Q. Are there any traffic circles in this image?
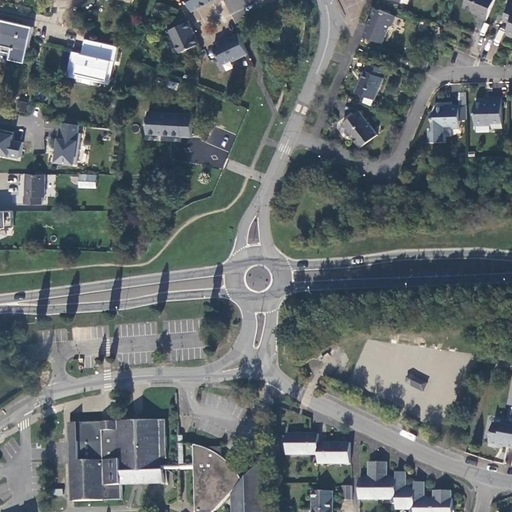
Yes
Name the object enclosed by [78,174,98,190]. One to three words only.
shed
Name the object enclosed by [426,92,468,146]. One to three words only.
house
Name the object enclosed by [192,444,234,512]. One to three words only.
building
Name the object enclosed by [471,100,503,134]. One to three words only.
house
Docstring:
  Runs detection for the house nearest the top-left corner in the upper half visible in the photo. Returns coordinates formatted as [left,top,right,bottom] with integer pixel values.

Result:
[0,20,34,68]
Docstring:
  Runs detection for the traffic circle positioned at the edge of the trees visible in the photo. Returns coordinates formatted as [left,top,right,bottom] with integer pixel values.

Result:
[225,245,293,317]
